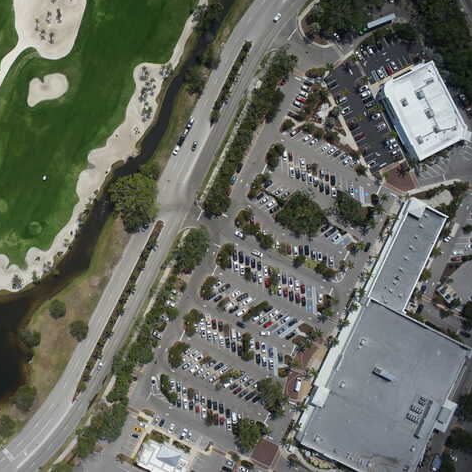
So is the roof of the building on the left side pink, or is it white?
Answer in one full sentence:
The roof of the building on the left side looks white in the image.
